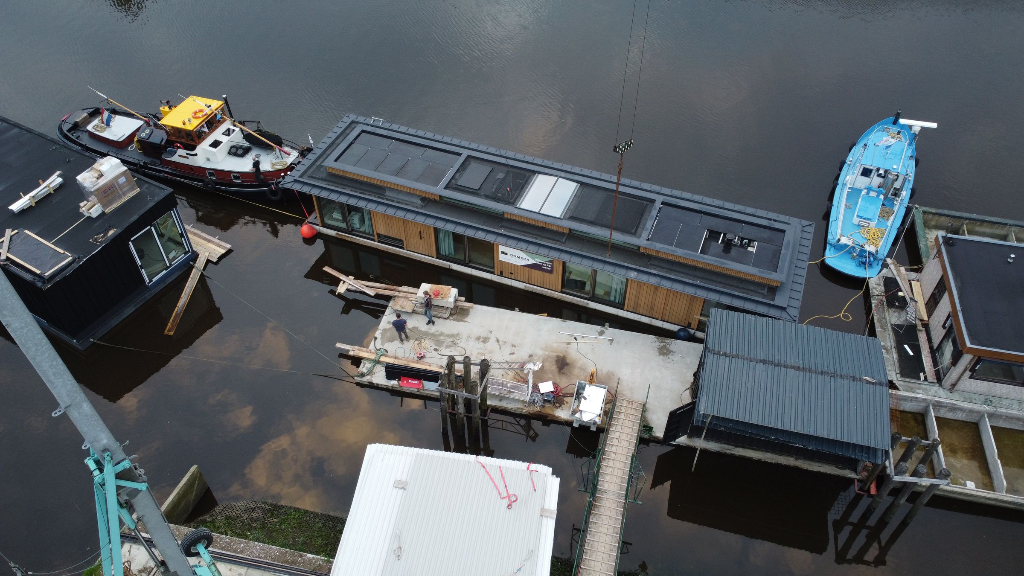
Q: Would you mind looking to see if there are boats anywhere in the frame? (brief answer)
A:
Yes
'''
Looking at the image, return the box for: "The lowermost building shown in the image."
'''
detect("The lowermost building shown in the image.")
[328,443,564,576]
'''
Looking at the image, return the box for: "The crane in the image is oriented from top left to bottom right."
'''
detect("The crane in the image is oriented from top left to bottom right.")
[0,293,195,576]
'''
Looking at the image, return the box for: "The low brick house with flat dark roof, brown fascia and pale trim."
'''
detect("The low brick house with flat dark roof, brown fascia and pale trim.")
[918,232,1024,393]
